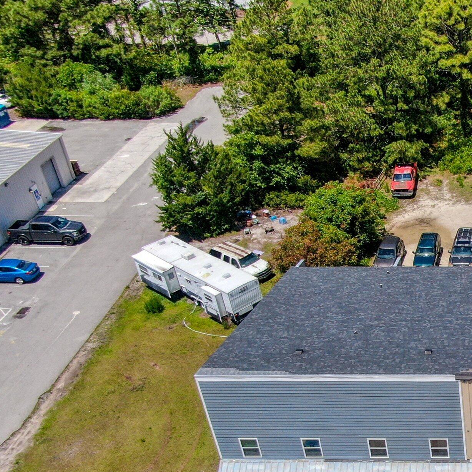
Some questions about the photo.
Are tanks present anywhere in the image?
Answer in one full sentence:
No, there is no tank in the image.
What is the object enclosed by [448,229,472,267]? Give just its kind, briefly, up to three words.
car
